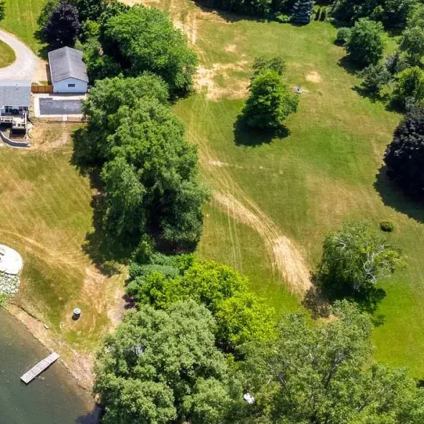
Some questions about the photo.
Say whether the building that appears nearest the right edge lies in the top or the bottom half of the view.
top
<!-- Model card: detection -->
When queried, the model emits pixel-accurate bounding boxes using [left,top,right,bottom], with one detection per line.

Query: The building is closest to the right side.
[49,46,88,91]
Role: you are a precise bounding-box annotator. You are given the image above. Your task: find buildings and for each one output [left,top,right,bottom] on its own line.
[0,79,31,141]
[49,46,88,91]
